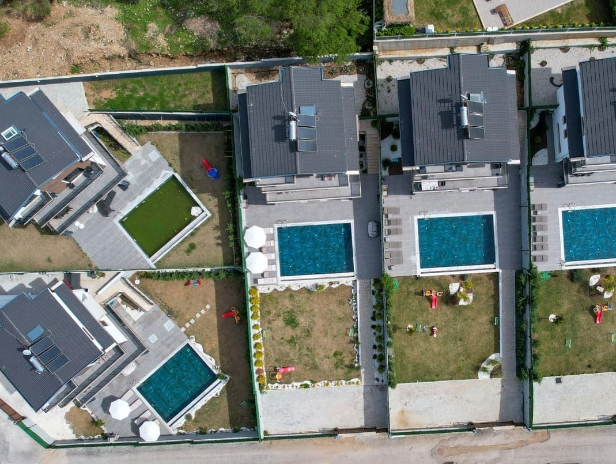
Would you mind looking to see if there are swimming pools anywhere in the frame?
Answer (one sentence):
Yes, the photo shows a swimming pool.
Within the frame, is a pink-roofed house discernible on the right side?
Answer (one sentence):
No, no pink-roofed house can be made out on the right side.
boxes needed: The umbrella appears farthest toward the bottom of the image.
[138,420,161,441]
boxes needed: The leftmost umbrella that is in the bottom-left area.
[109,398,131,420]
